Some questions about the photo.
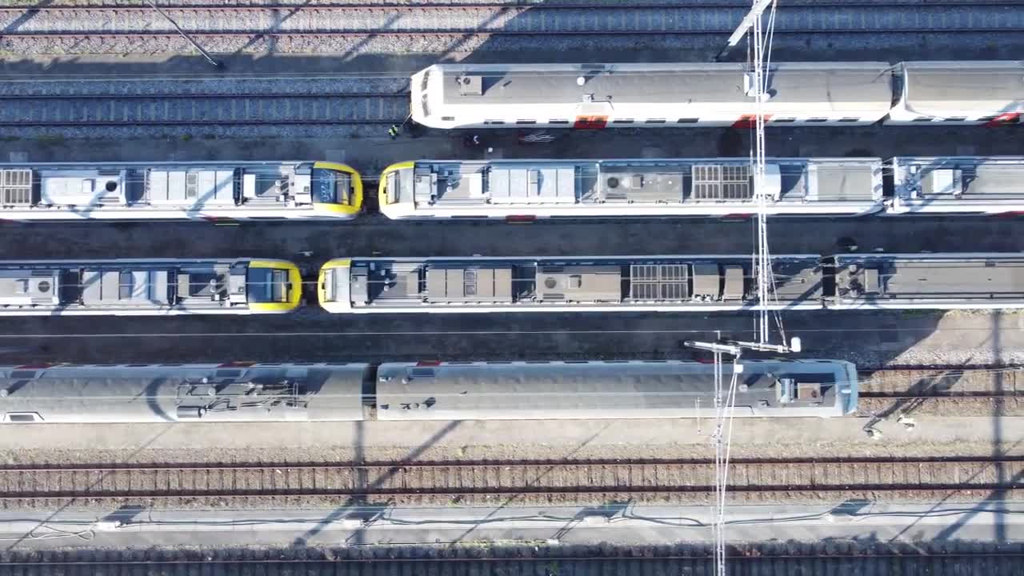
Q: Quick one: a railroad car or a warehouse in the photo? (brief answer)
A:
railroad car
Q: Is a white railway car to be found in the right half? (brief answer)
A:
Yes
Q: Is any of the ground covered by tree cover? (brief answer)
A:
No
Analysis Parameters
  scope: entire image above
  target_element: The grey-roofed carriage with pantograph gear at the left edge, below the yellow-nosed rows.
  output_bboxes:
[0,363,376,423]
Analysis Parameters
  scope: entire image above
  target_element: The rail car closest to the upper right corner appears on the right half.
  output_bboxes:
[875,63,1024,129]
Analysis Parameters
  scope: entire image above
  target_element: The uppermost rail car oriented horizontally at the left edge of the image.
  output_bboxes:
[0,162,365,222]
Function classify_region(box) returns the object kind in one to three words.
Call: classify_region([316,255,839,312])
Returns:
rail car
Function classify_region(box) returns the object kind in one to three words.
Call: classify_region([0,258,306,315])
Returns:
rail car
